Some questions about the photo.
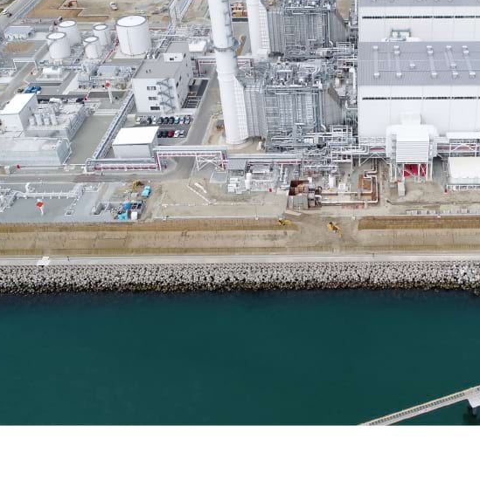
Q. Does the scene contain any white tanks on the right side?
No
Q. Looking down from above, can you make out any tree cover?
No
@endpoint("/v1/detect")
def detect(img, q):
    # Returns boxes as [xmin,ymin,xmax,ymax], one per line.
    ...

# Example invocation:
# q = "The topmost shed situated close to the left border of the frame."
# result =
[2,26,40,40]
